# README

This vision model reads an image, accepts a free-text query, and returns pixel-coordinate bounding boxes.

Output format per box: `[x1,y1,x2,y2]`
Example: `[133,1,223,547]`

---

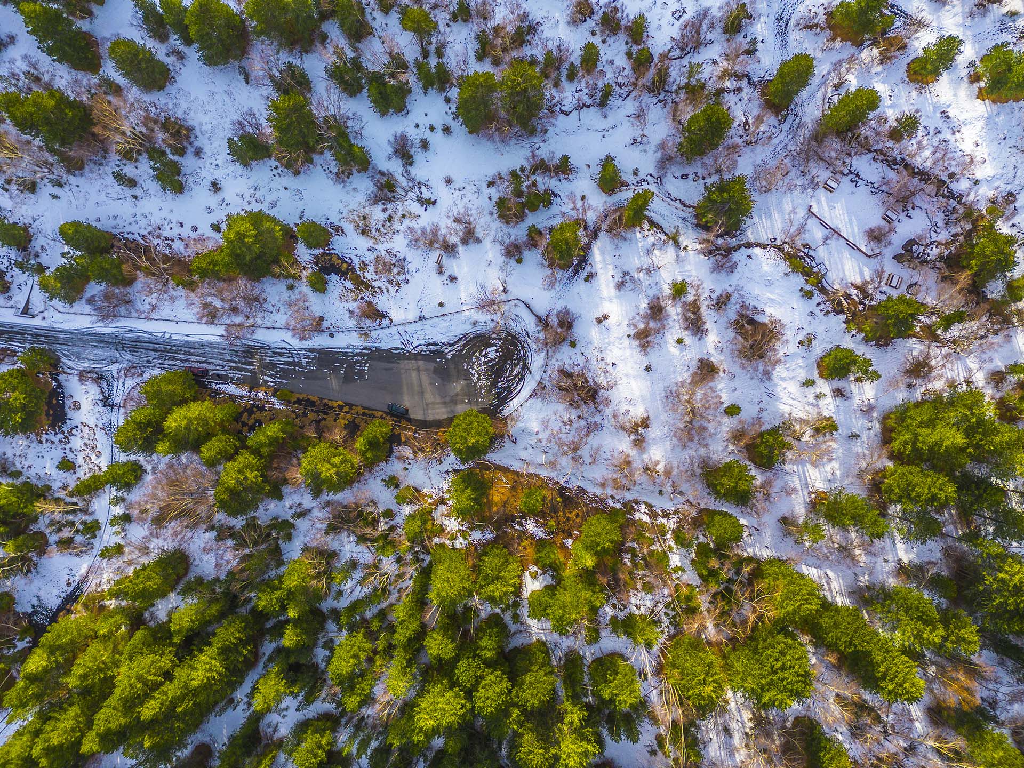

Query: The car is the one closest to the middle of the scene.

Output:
[386,403,408,416]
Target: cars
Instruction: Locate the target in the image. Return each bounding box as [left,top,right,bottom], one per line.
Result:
[386,403,408,416]
[184,367,207,378]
